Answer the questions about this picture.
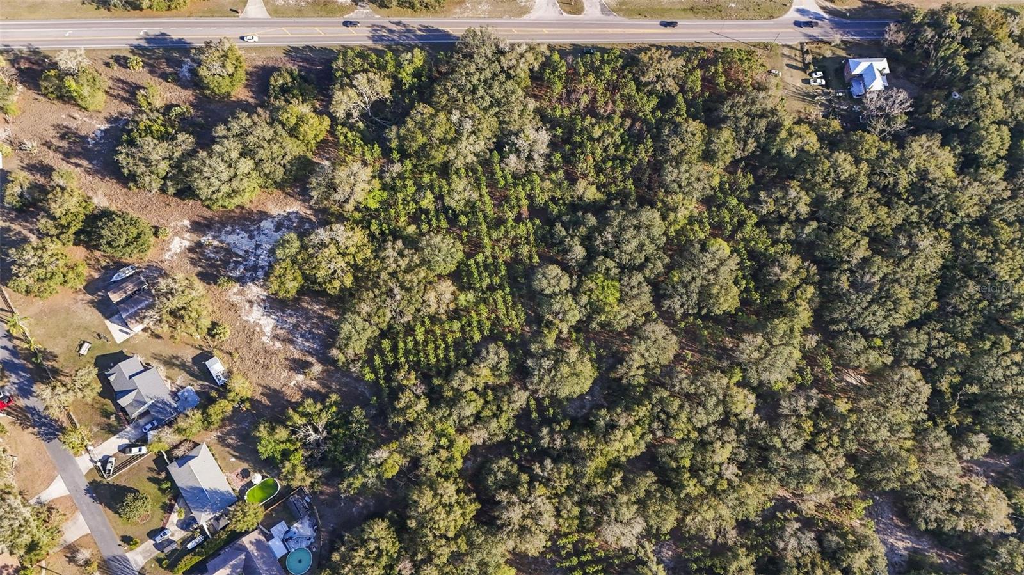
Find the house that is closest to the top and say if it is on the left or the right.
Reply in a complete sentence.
The house that is closest to the top sits on the right side.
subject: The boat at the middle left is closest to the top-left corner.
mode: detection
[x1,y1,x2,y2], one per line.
[110,265,136,280]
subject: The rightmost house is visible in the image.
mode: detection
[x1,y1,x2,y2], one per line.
[846,58,890,95]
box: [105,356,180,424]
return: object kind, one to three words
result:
house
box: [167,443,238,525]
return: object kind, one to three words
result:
house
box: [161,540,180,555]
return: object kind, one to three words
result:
car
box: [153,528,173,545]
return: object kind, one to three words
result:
car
